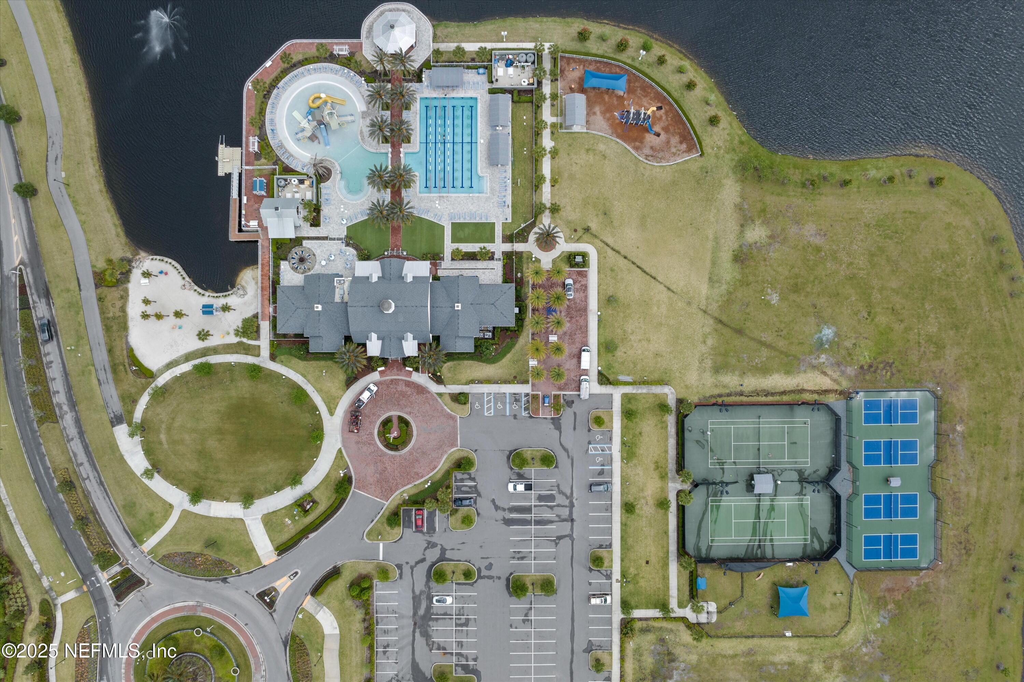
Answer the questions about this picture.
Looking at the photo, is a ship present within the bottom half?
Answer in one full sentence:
No, looking within the bottom half, there is no ship.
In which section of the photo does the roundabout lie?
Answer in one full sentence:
The roundabout appears toward the bottom left of the photo.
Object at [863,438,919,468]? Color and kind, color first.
blue sports court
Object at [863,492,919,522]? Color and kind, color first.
blue sports court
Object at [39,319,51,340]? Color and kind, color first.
gray vehicle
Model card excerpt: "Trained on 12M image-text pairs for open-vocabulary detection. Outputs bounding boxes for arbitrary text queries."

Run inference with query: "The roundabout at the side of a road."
[121,602,263,682]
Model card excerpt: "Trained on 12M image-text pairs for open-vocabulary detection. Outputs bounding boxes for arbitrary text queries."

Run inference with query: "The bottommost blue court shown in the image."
[863,533,919,563]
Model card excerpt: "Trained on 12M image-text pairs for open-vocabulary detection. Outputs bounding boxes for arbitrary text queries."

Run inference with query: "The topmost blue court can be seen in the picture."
[863,397,919,426]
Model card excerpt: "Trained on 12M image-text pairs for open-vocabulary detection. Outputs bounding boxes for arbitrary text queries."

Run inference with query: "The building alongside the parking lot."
[277,257,519,362]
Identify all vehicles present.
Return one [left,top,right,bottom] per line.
[39,319,51,340]
[454,497,475,507]
[543,395,549,405]
[579,376,589,400]
[564,278,574,299]
[589,594,612,605]
[508,482,533,491]
[356,384,376,408]
[590,483,611,492]
[433,595,453,605]
[416,509,424,529]
[580,346,590,369]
